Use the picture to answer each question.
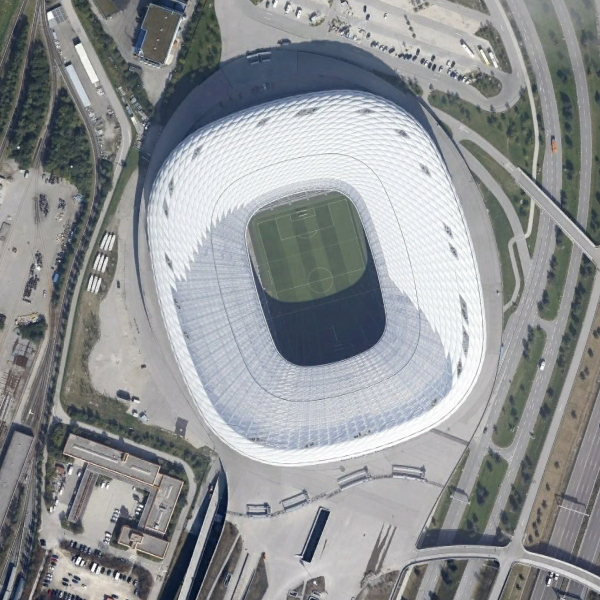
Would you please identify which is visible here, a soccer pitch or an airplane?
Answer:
soccer pitch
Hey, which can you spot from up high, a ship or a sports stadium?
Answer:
sports stadium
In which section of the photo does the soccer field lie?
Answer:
center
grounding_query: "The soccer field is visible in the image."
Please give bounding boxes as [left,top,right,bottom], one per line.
[250,195,381,363]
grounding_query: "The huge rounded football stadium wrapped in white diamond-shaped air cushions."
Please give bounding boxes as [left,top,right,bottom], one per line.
[148,86,485,469]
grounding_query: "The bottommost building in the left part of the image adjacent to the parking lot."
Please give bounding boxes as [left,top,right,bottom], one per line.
[118,524,171,560]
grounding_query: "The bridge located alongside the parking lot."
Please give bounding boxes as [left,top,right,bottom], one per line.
[179,473,221,600]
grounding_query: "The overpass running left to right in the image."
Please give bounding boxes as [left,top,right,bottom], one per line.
[390,535,600,600]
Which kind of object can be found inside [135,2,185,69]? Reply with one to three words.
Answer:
building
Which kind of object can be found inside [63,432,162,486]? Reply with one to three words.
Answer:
building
